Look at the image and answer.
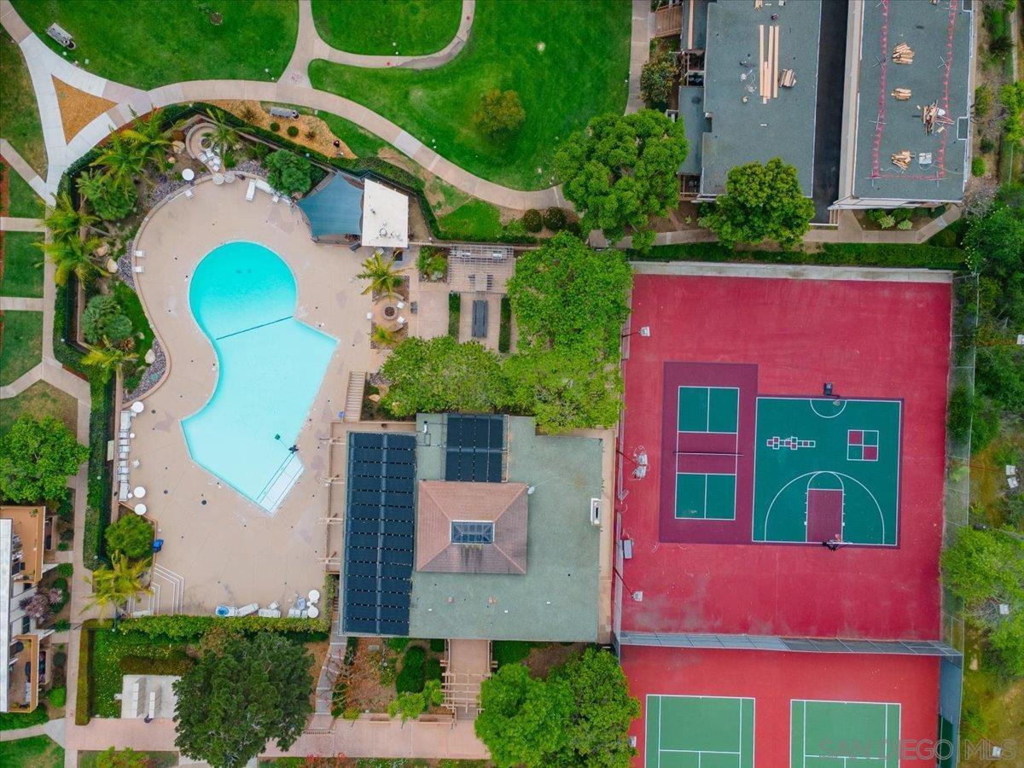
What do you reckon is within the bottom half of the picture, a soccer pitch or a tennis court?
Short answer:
tennis court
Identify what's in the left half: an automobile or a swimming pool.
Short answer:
swimming pool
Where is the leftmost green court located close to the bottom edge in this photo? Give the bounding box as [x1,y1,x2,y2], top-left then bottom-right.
[644,695,756,768]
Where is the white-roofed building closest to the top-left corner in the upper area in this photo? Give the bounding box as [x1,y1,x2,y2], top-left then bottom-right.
[361,178,411,250]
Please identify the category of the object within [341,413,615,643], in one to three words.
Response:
building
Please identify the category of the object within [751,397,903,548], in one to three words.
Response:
basketball court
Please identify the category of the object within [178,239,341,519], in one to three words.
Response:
swimming pool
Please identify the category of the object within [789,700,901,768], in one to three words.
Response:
tennis court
